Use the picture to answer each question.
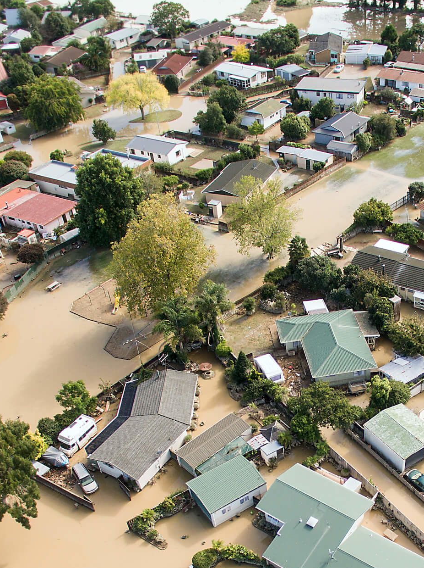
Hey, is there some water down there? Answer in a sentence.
Yes, there's water in this view.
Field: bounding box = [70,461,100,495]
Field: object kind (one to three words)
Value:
car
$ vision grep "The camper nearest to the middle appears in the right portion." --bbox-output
[253,353,282,384]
